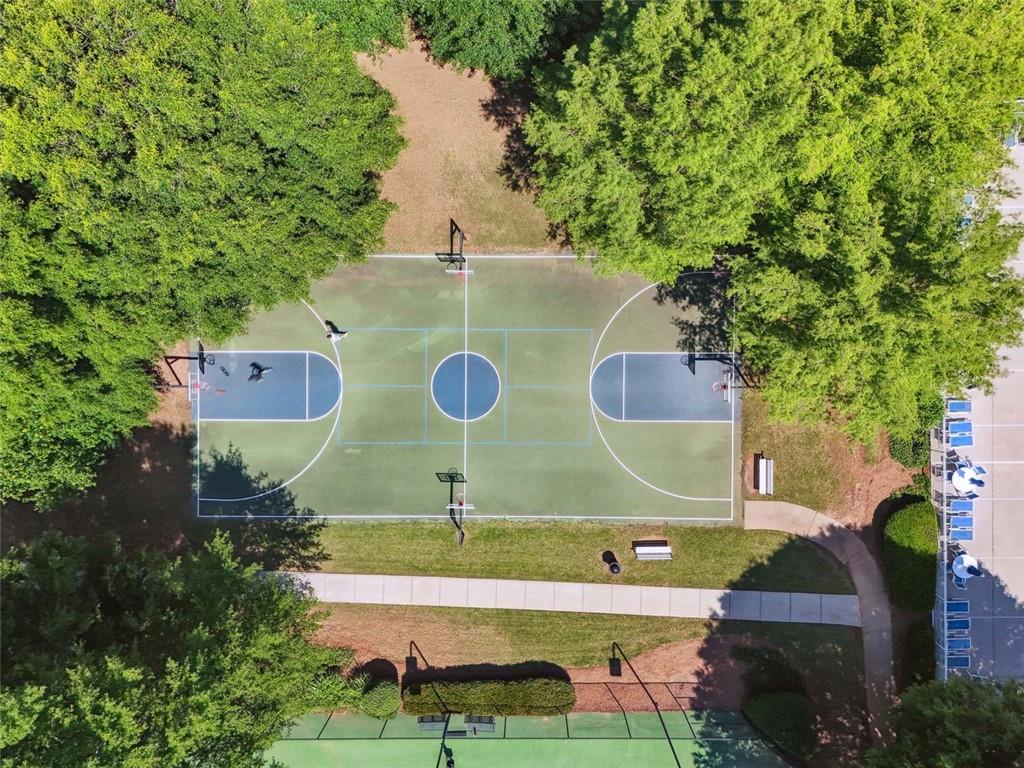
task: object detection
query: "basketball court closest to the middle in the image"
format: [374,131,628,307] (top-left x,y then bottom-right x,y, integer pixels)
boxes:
[190,250,744,527]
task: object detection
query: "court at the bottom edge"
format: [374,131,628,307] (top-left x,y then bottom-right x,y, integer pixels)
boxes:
[186,713,789,768]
